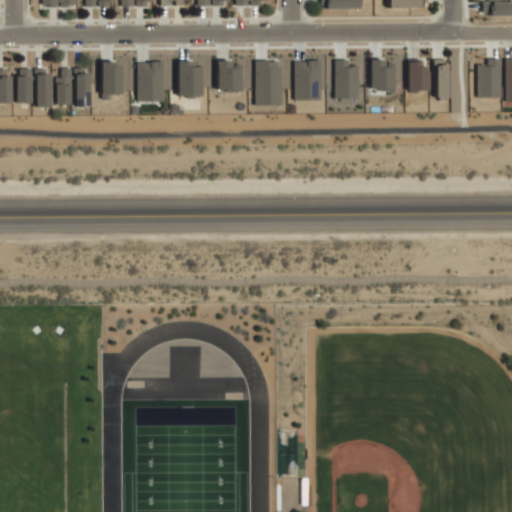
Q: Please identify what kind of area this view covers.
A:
sports ground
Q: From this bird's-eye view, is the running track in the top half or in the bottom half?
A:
bottom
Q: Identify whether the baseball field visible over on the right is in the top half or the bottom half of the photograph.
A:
bottom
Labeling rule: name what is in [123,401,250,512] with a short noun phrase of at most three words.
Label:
sports field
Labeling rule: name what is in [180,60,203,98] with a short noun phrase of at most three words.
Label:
house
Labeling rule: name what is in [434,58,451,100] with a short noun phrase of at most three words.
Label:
house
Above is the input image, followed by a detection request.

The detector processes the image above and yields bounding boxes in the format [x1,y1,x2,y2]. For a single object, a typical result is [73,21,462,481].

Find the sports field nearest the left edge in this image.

[0,305,102,512]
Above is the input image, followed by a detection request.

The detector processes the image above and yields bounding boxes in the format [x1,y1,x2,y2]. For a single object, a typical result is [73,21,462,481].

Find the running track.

[102,320,269,512]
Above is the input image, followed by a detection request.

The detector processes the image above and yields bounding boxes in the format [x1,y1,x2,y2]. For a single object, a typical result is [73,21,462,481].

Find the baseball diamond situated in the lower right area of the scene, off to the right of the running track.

[306,327,512,512]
